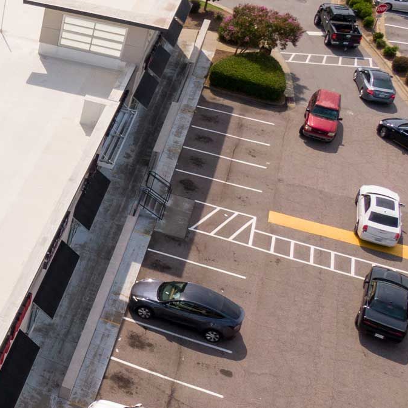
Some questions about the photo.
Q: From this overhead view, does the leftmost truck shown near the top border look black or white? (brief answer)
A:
black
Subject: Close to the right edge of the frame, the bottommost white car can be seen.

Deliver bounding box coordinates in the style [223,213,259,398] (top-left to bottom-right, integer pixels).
[353,184,408,250]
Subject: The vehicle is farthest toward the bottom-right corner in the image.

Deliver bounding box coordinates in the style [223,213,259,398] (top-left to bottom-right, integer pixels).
[355,265,408,344]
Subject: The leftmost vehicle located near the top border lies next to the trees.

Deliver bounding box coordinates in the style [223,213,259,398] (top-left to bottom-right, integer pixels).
[320,1,363,43]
